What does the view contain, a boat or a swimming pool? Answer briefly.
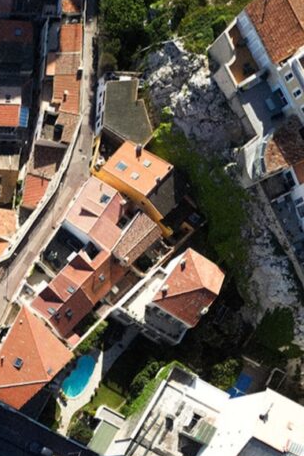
swimming pool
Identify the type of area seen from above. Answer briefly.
residential area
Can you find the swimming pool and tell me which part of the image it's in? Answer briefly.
bottom left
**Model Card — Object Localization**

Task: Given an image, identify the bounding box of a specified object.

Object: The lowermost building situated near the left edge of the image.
[0,305,73,418]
